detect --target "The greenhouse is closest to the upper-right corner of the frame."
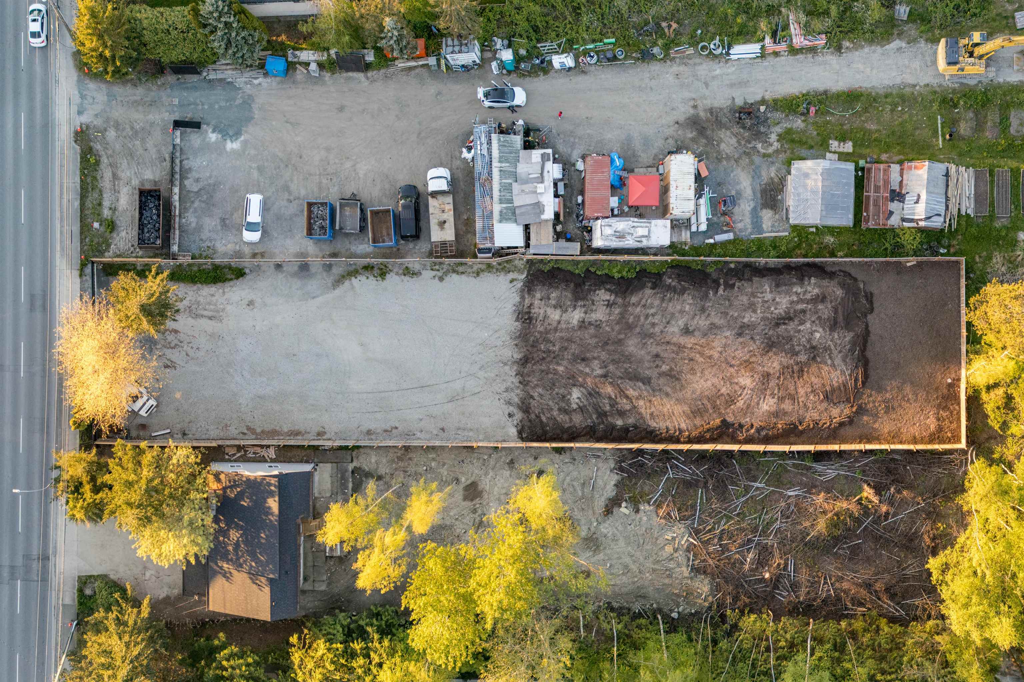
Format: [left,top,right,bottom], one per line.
[853,161,950,231]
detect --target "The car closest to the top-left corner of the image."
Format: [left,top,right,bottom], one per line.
[27,4,53,50]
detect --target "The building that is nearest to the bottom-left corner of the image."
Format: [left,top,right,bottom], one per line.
[207,466,317,622]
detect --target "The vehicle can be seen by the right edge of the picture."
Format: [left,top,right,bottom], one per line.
[932,32,1024,76]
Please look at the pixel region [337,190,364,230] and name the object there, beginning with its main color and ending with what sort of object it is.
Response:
gray trailer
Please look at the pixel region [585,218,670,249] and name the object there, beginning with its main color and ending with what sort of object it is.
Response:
white camper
